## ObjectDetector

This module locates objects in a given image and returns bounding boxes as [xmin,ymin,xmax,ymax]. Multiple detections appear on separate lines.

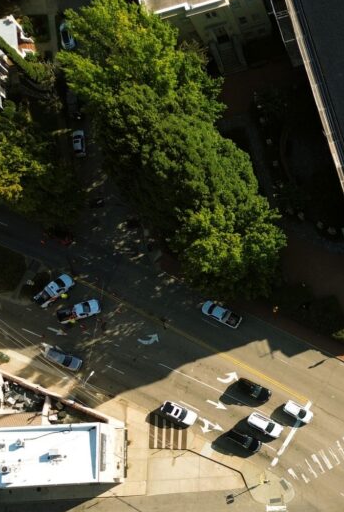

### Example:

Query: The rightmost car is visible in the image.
[280,398,316,426]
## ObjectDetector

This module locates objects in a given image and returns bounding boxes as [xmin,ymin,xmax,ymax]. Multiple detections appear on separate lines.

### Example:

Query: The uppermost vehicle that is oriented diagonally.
[29,272,79,311]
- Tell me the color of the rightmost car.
white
